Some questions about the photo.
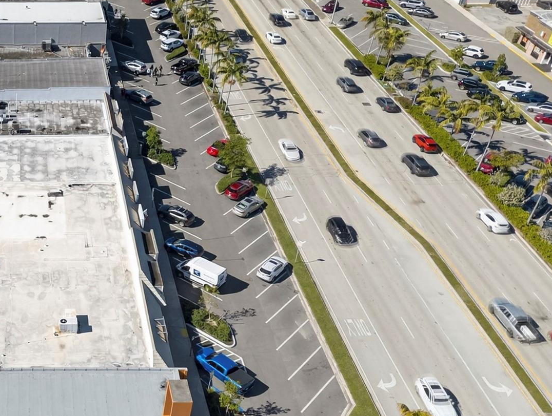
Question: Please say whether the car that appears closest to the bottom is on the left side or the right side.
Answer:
right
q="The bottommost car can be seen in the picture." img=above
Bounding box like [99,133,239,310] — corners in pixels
[416,377,460,416]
